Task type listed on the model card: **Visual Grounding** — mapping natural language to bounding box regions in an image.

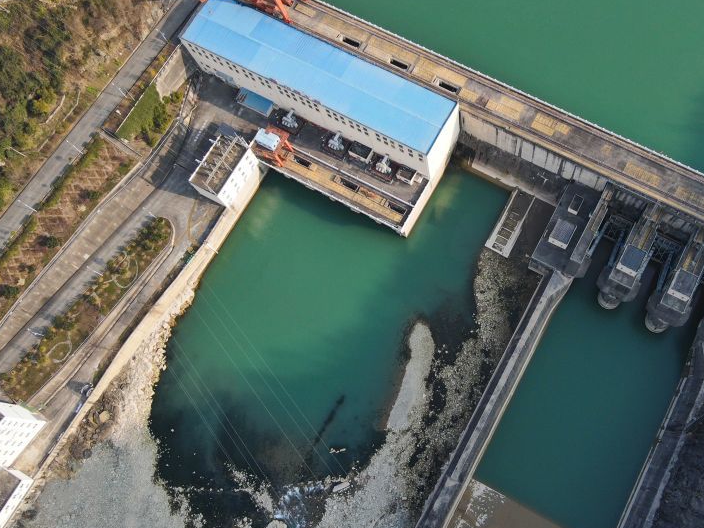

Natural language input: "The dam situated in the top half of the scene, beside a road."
[229,0,704,300]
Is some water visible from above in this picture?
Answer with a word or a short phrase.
Yes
